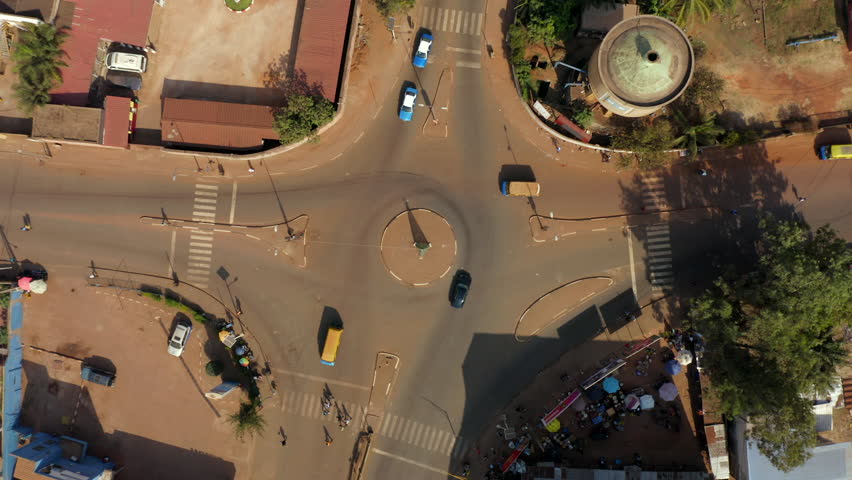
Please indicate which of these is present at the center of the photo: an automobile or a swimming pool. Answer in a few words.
automobile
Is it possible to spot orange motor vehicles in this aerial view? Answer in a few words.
Yes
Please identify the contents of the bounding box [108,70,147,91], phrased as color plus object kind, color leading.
gray car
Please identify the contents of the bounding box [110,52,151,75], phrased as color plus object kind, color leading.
white vehicle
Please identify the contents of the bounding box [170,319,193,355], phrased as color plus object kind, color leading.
white car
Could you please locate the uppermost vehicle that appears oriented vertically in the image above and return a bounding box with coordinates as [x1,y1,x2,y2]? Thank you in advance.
[413,32,433,69]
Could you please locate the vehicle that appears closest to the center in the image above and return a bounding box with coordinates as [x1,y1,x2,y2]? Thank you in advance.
[451,272,469,305]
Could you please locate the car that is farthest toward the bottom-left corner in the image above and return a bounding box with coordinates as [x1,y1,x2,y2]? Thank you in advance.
[82,364,116,386]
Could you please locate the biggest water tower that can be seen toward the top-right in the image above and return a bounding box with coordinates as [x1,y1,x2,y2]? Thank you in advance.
[587,15,695,118]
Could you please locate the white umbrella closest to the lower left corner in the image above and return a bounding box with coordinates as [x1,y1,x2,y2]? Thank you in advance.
[32,276,51,296]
